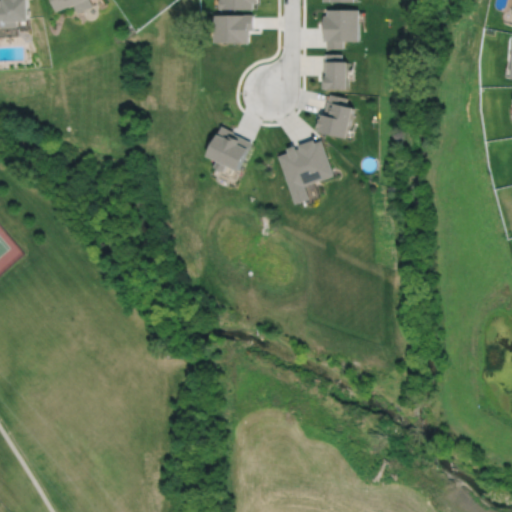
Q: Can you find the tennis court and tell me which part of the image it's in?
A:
left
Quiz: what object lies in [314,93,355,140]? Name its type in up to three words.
house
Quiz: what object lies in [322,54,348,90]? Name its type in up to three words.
house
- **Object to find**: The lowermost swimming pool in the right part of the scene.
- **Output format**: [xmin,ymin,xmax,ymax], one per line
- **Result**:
[361,156,382,174]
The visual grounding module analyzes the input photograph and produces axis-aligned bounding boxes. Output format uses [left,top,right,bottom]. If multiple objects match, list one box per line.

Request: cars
[306,105,318,112]
[317,94,326,100]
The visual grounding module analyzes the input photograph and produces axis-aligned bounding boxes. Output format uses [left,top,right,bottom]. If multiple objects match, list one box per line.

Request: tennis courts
[0,226,24,274]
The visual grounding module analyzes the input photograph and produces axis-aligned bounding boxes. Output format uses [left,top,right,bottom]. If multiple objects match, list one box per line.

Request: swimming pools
[495,0,508,10]
[361,156,382,174]
[0,46,24,62]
